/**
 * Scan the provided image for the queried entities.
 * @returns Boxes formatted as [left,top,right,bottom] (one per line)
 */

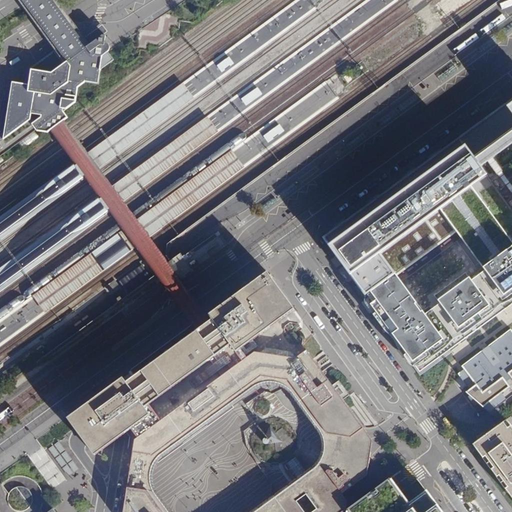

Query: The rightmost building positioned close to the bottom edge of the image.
[471,414,512,499]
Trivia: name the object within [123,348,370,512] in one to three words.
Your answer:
building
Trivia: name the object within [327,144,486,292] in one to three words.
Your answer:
building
